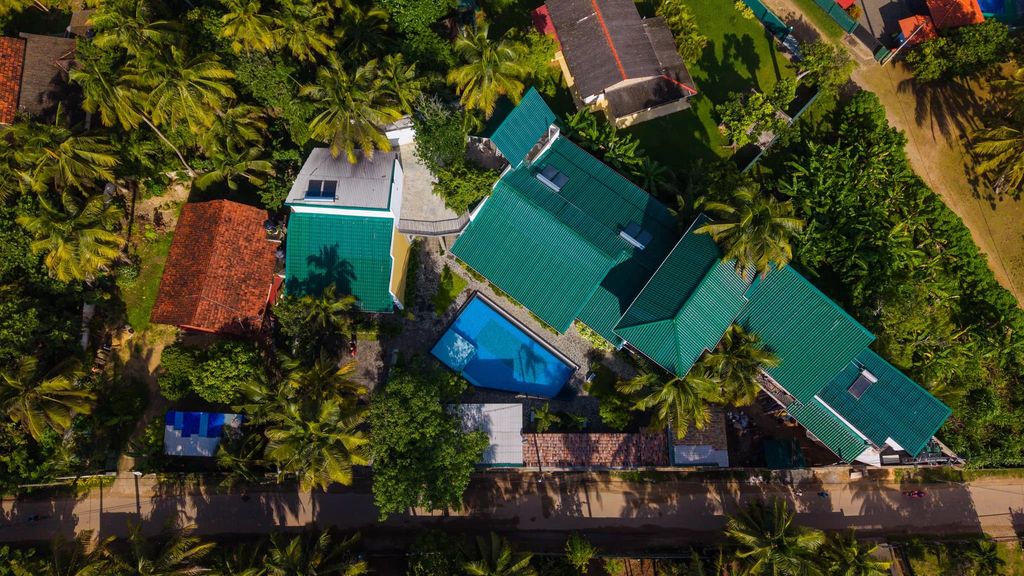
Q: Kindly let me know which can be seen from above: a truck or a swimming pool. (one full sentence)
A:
I can see a swimming pool in this picture.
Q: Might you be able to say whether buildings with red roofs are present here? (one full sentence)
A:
Yes, this view includes a building with a red roof.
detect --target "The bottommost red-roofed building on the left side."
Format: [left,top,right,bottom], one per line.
[150,199,281,335]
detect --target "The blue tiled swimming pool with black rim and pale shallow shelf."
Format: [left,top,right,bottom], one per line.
[423,288,586,403]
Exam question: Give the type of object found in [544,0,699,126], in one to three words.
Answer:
house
